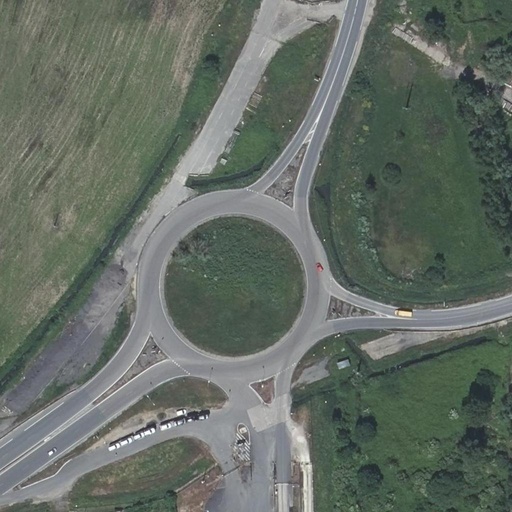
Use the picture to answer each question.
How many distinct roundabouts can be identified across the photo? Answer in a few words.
1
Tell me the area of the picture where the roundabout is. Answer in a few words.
center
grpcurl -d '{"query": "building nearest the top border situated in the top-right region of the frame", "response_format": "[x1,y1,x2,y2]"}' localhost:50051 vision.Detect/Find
[392,26,440,64]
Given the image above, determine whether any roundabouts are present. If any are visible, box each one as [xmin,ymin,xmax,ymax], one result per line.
[84,182,362,420]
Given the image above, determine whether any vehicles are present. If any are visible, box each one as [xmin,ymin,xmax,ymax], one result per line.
[132,432,144,440]
[160,424,172,430]
[48,448,57,456]
[108,443,120,450]
[178,419,188,424]
[394,310,413,316]
[144,428,156,435]
[198,414,209,420]
[120,438,132,446]
[316,263,322,272]
[176,409,186,415]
